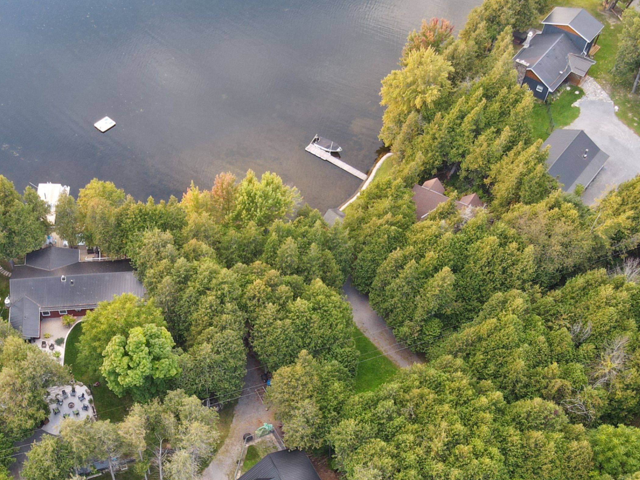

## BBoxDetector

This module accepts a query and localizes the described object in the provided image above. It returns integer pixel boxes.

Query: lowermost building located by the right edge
[544,128,614,205]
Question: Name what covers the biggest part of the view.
trees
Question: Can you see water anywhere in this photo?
Yes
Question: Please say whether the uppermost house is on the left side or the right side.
right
